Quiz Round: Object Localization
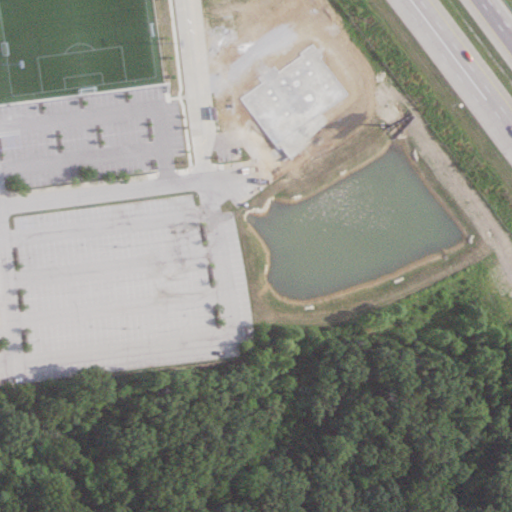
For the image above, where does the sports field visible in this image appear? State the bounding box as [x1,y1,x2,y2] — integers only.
[0,0,162,102]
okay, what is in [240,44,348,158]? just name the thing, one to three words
building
